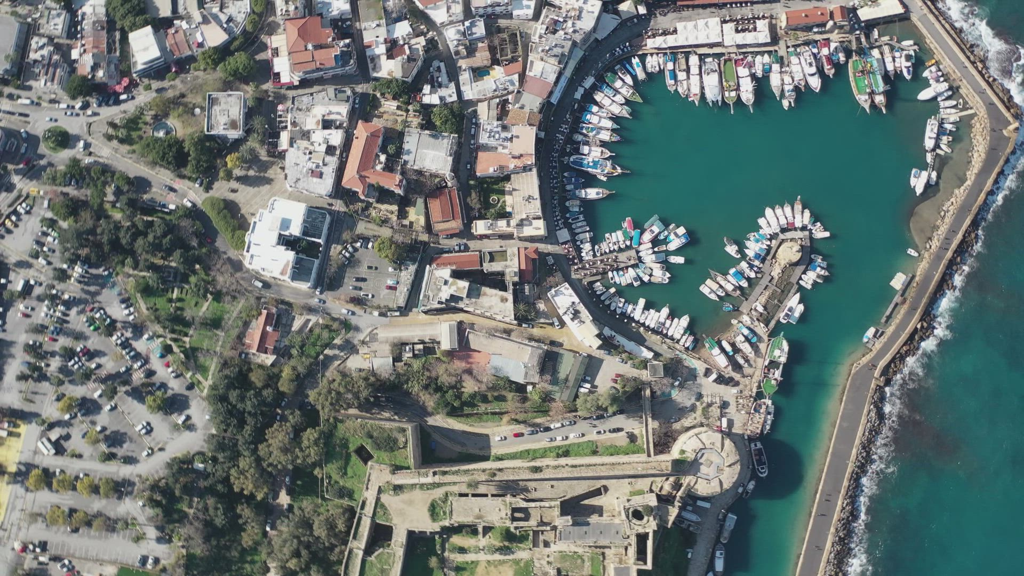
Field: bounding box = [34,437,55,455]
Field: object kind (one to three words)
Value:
vehicle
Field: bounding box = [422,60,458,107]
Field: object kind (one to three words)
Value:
house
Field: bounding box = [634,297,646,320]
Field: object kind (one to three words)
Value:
boat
